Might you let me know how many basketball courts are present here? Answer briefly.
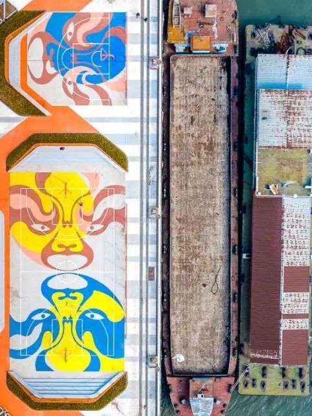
2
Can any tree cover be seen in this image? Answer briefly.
No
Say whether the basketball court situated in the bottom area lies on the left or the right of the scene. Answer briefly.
left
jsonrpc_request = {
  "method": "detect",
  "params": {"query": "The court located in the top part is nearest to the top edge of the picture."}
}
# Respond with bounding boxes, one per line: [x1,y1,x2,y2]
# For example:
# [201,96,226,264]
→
[28,11,126,106]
